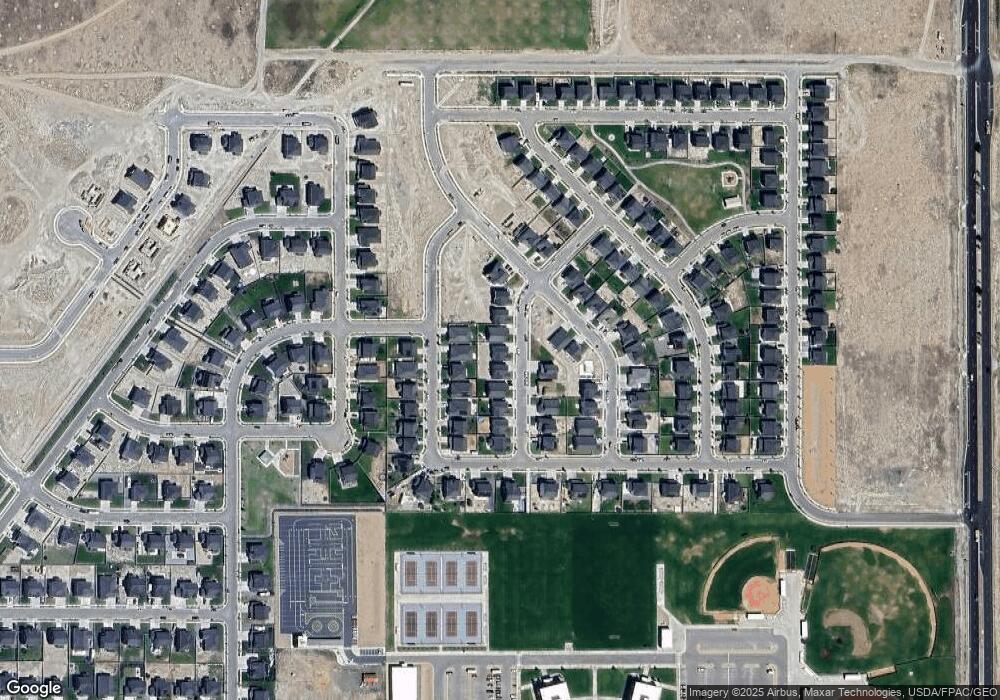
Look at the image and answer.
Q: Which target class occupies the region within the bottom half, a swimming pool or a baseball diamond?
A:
baseball diamond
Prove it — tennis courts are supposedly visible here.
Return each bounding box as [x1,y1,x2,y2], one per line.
[400,603,421,643]
[462,554,481,594]
[421,603,441,643]
[442,603,462,643]
[462,603,481,643]
[400,554,421,594]
[441,554,462,594]
[421,554,441,594]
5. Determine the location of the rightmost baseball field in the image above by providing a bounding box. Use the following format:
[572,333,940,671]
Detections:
[807,544,934,673]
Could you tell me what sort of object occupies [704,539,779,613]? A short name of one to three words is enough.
baseball field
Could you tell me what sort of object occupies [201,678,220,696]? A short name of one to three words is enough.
house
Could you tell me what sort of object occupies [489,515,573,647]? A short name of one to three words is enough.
sports field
